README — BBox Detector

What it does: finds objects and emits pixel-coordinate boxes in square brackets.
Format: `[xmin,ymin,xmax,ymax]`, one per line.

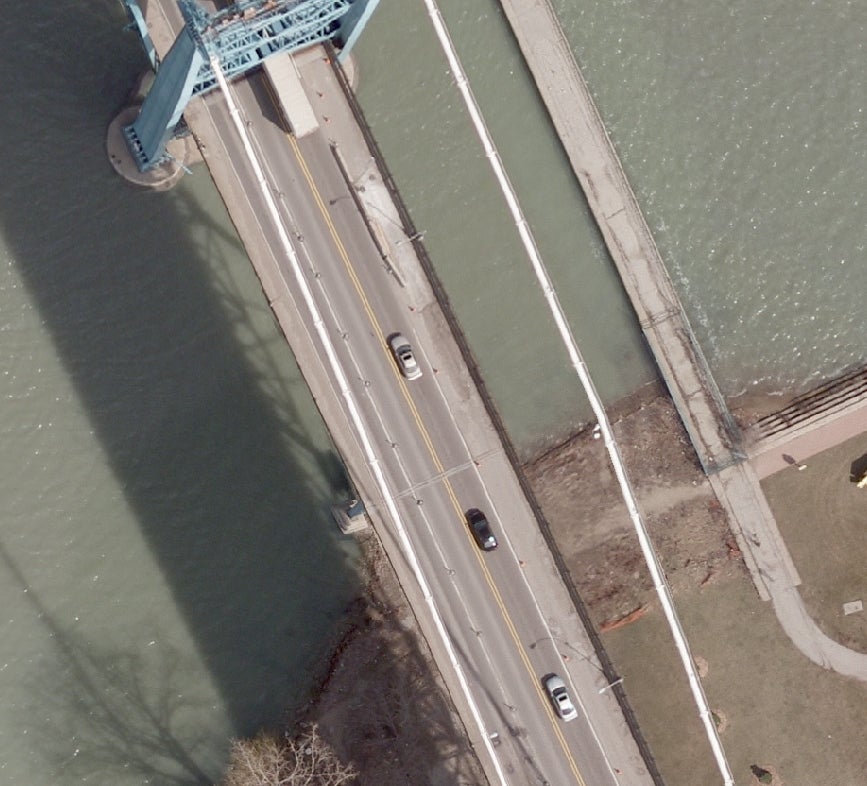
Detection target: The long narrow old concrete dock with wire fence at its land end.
[497,0,743,473]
